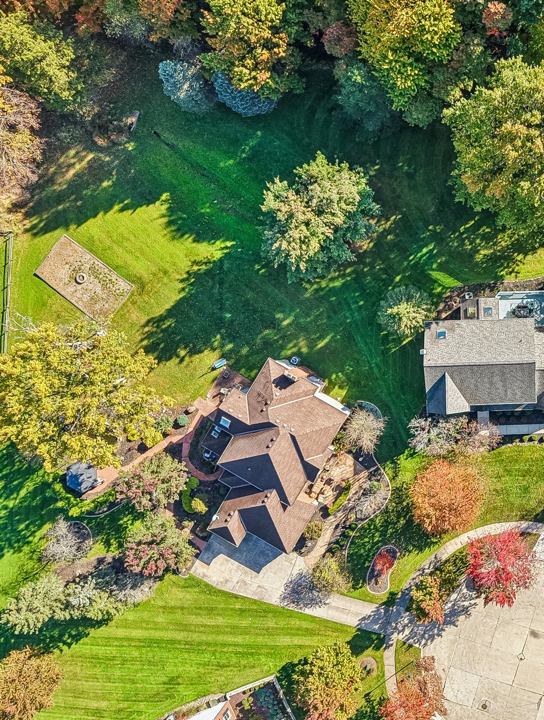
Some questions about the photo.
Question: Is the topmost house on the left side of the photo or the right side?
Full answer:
It is on the right.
